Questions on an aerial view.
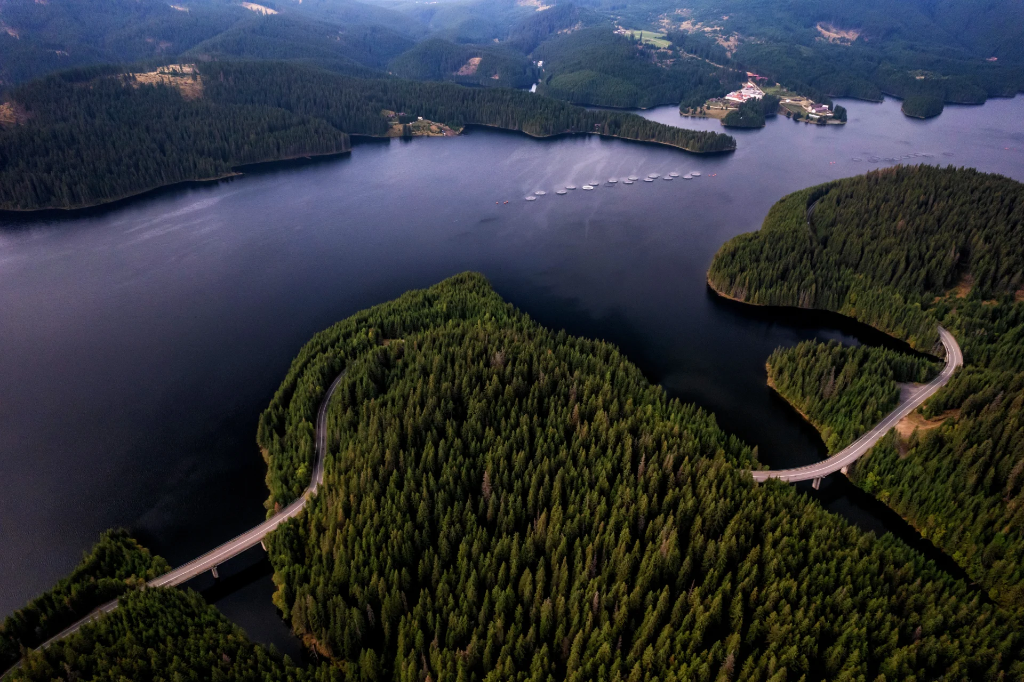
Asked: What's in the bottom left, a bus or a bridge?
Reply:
bridge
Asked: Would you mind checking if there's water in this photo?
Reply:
Yes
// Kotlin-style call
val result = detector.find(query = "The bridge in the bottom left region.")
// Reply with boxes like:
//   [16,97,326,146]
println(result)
[149,510,289,591]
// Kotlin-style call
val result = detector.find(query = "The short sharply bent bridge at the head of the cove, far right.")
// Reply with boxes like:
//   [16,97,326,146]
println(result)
[942,325,965,366]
